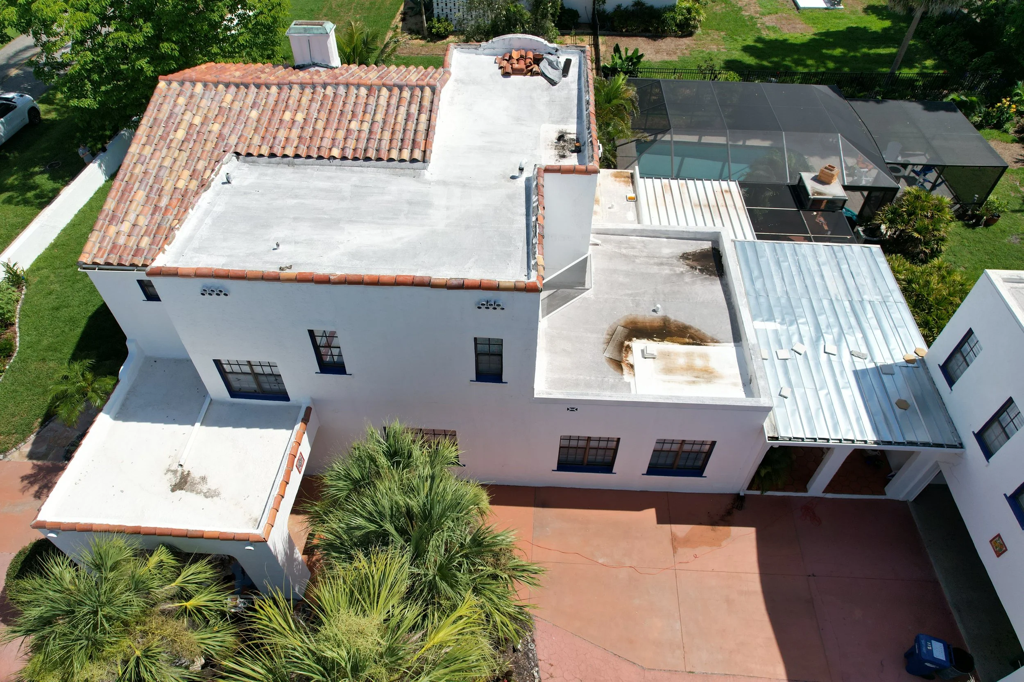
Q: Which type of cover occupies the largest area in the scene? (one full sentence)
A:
For the most part, this view shows buildings.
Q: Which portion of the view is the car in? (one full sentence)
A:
Look in the top left portion of the view to spot the car.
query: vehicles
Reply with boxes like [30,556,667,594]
[0,97,41,141]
